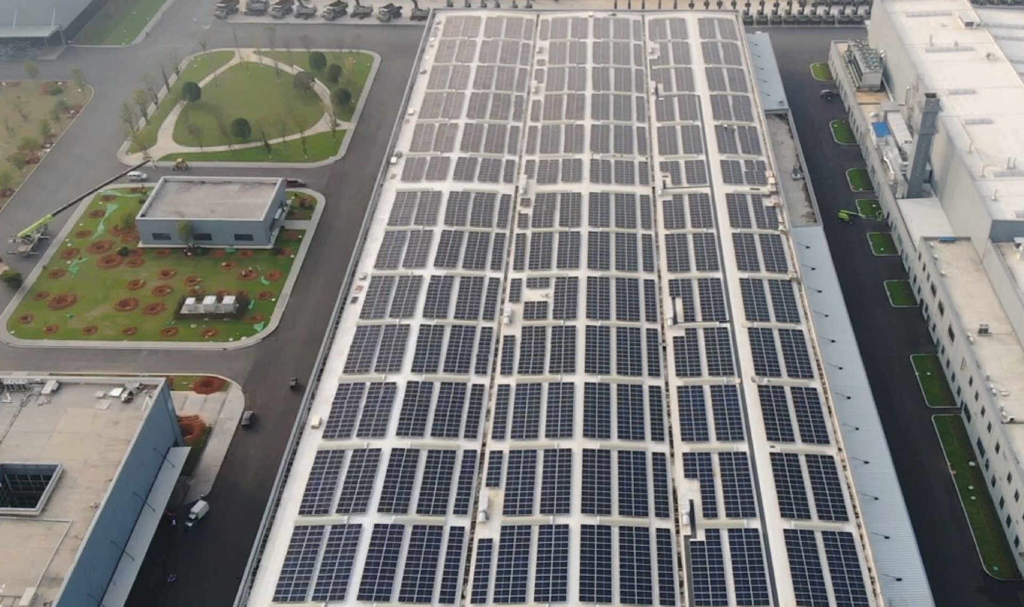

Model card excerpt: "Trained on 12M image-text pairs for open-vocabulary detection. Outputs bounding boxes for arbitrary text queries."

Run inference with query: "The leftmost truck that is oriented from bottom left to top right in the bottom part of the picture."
[184,499,210,530]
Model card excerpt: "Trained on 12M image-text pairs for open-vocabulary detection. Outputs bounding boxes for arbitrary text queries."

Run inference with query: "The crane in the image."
[7,157,159,256]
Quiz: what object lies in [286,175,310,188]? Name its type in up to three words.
vehicle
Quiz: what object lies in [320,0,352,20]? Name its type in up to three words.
vehicle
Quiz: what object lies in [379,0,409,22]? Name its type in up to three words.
truck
